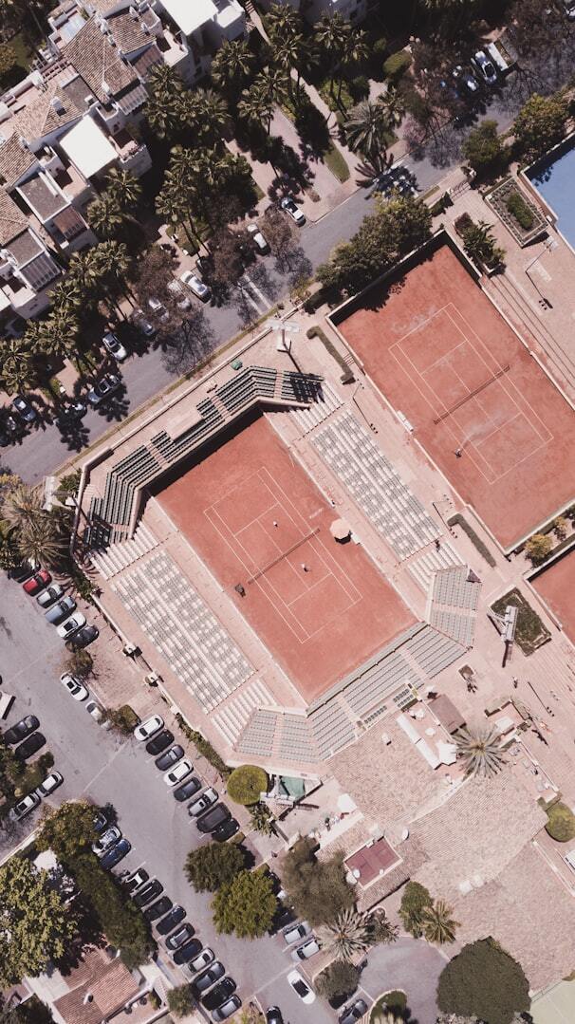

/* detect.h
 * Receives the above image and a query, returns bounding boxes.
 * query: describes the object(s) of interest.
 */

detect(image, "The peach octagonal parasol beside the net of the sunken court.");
[330,519,350,539]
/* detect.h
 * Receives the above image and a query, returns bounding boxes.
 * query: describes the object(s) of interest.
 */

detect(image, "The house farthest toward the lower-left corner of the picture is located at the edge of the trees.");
[21,937,179,1024]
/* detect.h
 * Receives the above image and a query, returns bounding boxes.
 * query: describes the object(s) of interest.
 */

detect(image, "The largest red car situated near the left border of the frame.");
[23,570,53,594]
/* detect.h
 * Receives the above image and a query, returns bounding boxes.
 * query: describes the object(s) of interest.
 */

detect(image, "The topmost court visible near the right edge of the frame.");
[528,143,575,236]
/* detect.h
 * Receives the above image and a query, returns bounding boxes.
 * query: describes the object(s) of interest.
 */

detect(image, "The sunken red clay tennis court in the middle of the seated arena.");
[146,407,417,703]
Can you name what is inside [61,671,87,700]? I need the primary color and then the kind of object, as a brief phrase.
white car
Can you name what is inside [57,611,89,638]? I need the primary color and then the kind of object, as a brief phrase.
white car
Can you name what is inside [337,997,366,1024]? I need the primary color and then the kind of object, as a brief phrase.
gray car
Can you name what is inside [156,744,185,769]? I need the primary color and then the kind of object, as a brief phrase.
gray car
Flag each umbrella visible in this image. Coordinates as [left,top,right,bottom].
[424,724,434,736]
[415,707,425,718]
[424,682,435,693]
[330,519,350,539]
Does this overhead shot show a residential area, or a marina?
residential area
